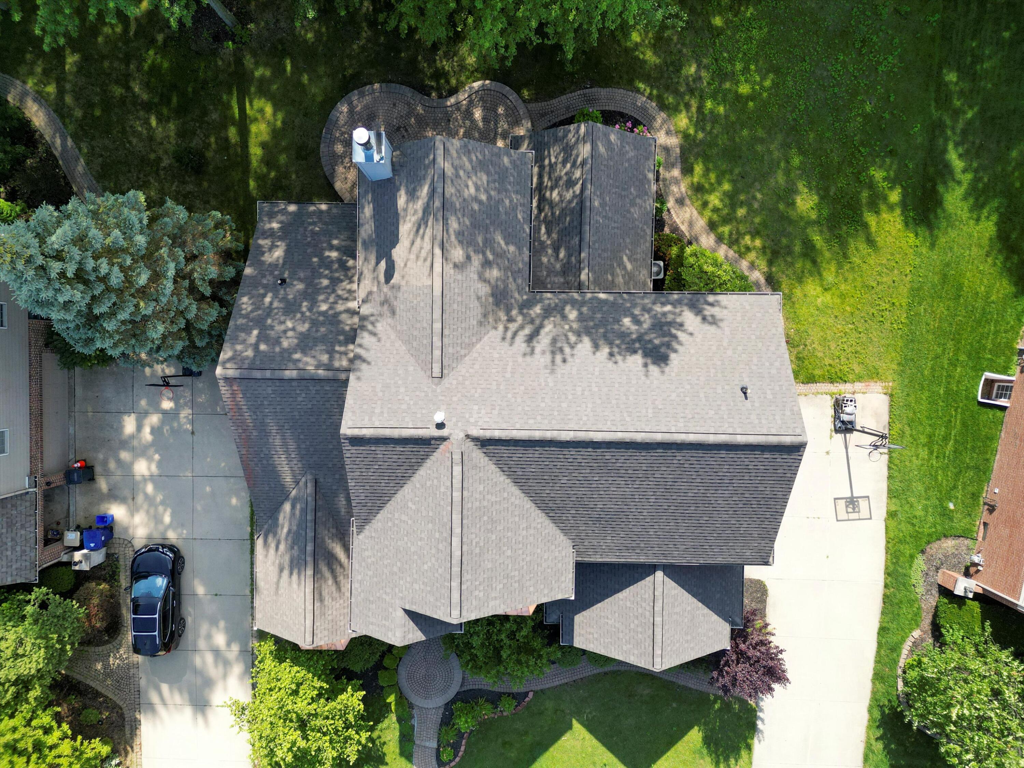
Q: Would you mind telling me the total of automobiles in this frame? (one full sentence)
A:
The count comes to 1 automobile.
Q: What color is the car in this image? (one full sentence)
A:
From above, the car appears black.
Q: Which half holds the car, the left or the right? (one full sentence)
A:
The car appears in the left half of the scene.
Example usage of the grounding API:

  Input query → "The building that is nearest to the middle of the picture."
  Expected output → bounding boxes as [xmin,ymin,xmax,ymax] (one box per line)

[217,122,809,673]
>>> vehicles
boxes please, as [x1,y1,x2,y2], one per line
[125,542,185,654]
